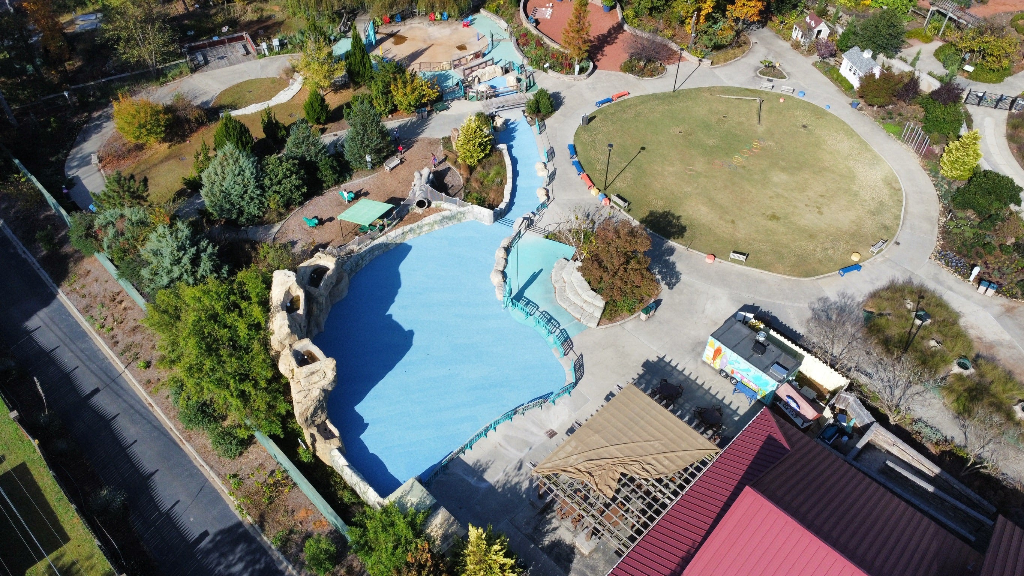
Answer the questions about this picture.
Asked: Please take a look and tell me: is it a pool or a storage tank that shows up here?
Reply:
pool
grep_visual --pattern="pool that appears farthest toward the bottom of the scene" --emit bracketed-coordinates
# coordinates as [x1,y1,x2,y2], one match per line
[317,113,567,496]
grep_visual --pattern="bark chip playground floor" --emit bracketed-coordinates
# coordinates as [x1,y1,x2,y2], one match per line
[275,135,462,255]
